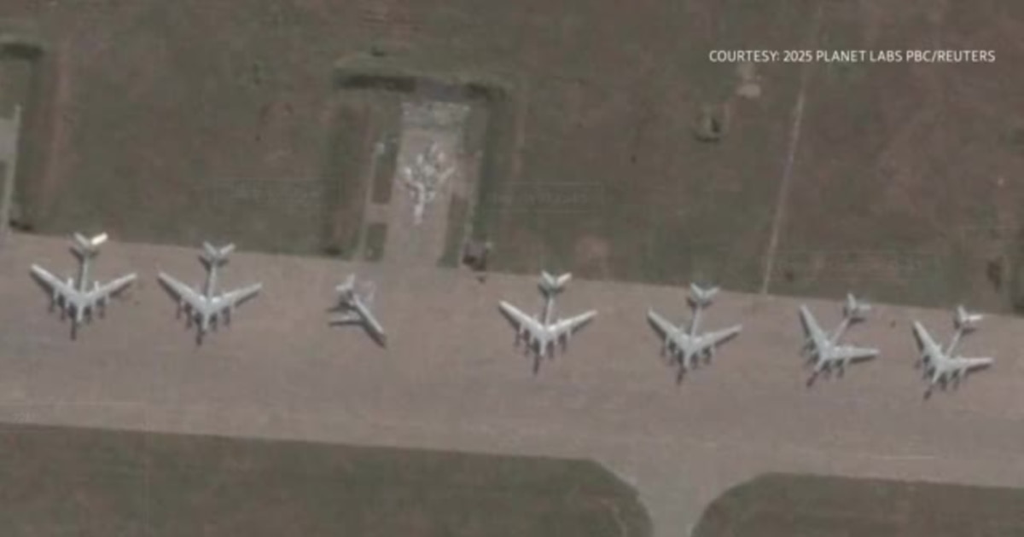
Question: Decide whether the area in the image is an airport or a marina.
airport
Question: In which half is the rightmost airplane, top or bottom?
bottom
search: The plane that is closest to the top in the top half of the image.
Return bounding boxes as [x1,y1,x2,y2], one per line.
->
[405,153,451,225]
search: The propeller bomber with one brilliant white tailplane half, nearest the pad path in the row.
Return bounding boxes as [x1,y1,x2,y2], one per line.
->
[31,231,136,332]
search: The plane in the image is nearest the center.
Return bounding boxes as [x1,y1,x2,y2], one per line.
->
[501,272,596,367]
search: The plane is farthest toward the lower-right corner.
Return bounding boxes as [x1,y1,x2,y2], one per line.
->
[912,305,991,395]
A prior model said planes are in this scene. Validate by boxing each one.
[799,292,879,381]
[649,283,741,377]
[405,153,451,225]
[159,241,262,343]
[501,272,596,367]
[332,275,388,340]
[912,305,991,395]
[31,231,136,332]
